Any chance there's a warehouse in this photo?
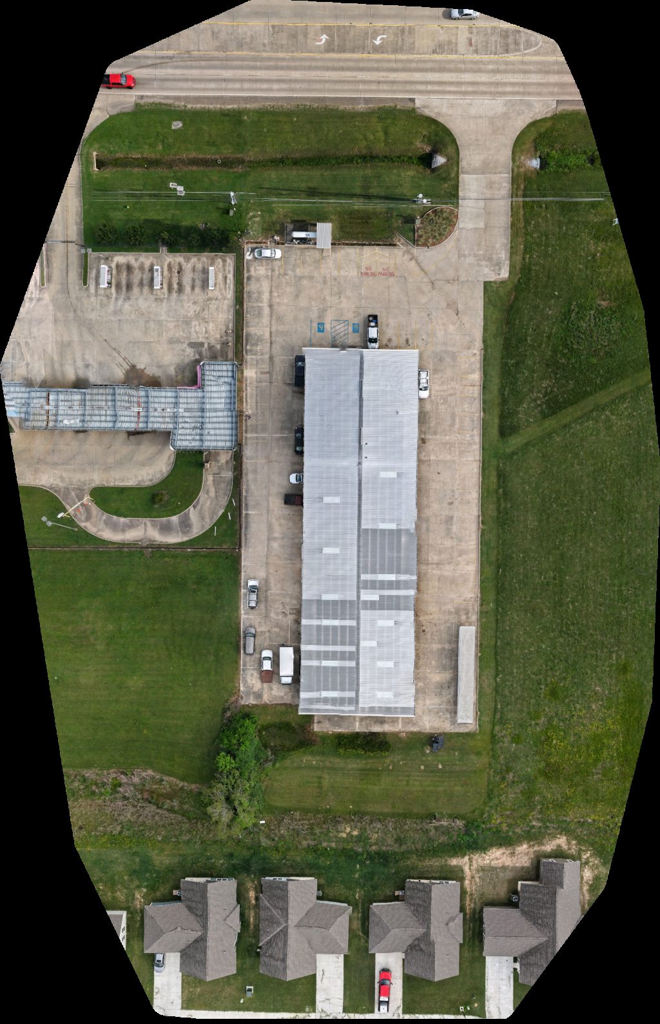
Yes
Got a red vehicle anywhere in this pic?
Yes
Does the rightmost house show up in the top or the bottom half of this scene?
bottom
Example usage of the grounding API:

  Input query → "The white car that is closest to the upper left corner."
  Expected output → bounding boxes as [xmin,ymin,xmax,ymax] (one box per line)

[253,246,282,260]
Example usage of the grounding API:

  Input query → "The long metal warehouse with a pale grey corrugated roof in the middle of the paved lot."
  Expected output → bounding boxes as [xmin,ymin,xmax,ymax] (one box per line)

[299,348,419,717]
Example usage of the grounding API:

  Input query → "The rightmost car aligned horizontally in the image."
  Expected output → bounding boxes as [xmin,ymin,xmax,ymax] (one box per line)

[450,8,480,21]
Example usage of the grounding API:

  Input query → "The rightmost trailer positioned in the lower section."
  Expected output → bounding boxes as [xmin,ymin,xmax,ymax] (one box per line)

[456,625,475,724]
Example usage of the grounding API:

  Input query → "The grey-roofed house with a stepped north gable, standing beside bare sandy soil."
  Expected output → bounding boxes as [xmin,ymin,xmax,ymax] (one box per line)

[484,859,584,989]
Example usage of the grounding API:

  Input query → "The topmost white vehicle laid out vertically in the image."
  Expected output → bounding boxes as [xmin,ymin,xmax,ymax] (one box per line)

[365,314,381,349]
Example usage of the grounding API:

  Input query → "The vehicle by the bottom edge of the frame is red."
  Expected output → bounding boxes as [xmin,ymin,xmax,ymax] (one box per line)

[378,968,392,1011]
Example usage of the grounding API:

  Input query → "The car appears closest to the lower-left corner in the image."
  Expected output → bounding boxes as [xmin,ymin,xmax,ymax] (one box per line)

[152,953,165,972]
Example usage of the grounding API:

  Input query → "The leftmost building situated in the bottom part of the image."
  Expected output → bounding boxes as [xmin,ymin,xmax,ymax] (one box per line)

[108,907,125,948]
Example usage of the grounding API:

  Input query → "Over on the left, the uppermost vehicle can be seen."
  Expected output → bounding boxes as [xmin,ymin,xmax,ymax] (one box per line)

[102,72,136,89]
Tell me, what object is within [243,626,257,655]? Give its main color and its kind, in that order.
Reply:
gray car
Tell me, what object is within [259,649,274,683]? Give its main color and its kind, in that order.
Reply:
white vehicle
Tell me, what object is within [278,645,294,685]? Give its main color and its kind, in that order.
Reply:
white vehicle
